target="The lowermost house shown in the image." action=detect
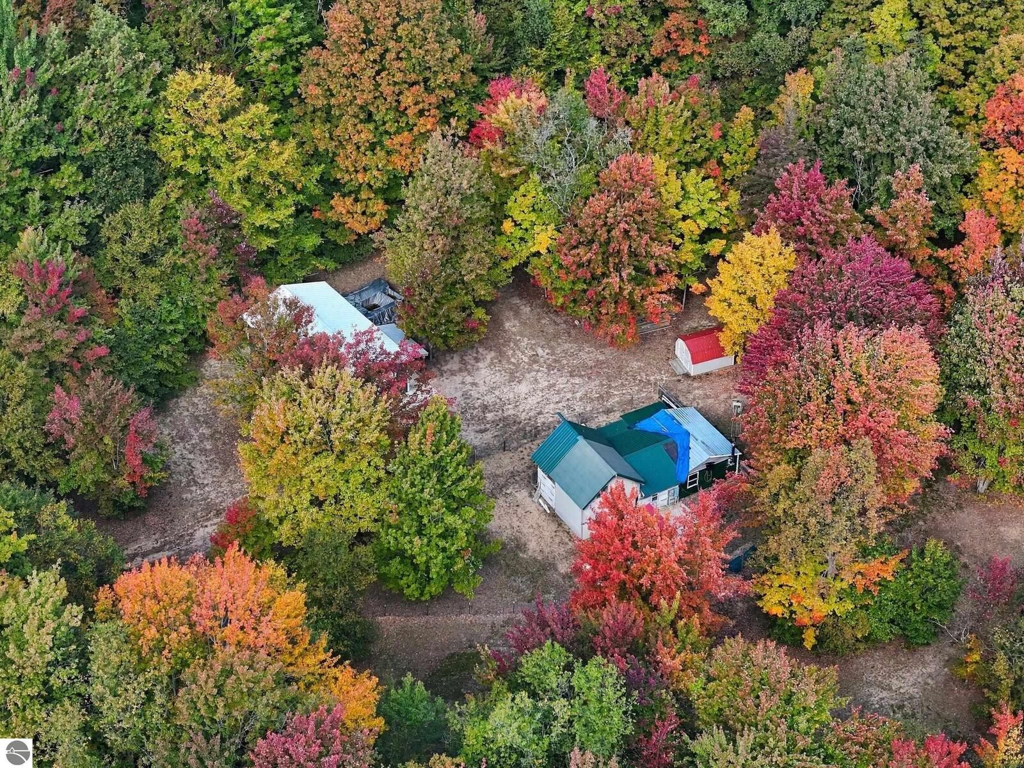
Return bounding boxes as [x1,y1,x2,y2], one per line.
[527,398,741,538]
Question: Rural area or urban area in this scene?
rural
